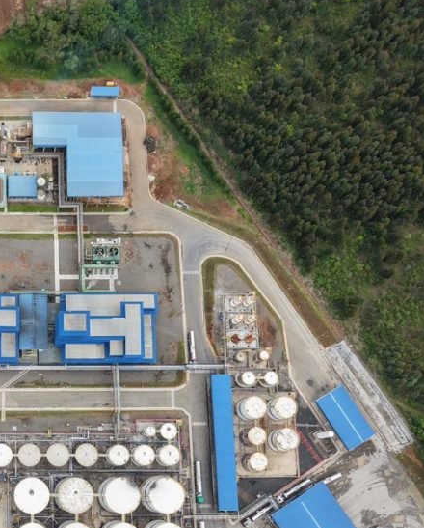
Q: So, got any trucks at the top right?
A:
No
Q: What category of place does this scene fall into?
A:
industrial area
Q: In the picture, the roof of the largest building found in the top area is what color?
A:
blue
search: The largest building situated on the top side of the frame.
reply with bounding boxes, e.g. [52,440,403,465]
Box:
[32,112,124,204]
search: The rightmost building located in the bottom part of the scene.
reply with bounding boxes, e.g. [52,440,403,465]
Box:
[60,294,157,364]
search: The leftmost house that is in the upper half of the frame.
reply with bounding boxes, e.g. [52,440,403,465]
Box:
[8,175,37,201]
